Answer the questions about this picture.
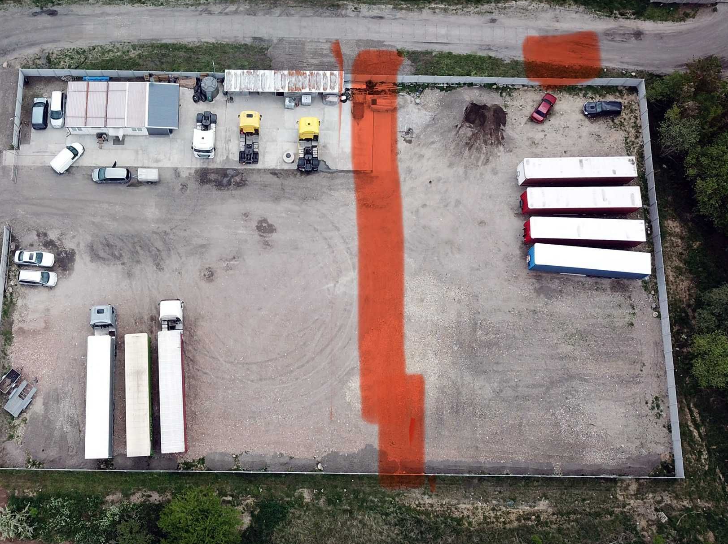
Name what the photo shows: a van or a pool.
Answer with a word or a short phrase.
van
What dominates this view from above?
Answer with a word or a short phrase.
paved ground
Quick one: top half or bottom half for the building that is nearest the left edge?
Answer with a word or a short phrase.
top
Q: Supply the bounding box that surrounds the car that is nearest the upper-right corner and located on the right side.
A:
[582,99,623,118]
